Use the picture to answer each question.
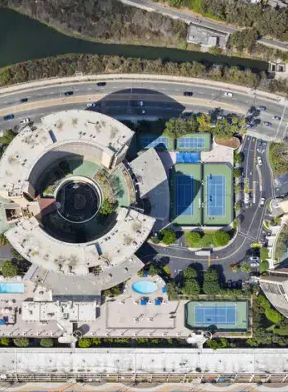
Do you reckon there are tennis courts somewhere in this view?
Yes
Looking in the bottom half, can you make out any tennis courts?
Yes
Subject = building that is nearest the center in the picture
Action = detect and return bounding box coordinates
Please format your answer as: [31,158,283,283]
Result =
[130,147,169,230]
